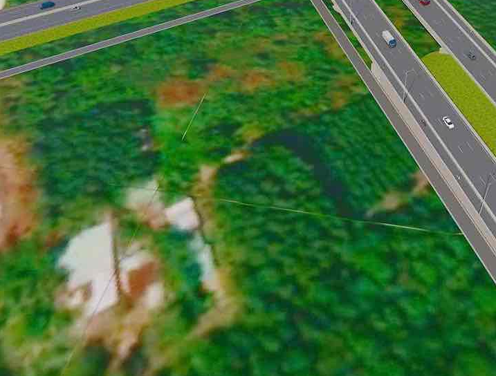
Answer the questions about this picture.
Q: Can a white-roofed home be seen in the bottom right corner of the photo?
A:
No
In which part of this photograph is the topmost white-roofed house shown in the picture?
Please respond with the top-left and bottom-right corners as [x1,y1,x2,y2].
[165,196,201,234]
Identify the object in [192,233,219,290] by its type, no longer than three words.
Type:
house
